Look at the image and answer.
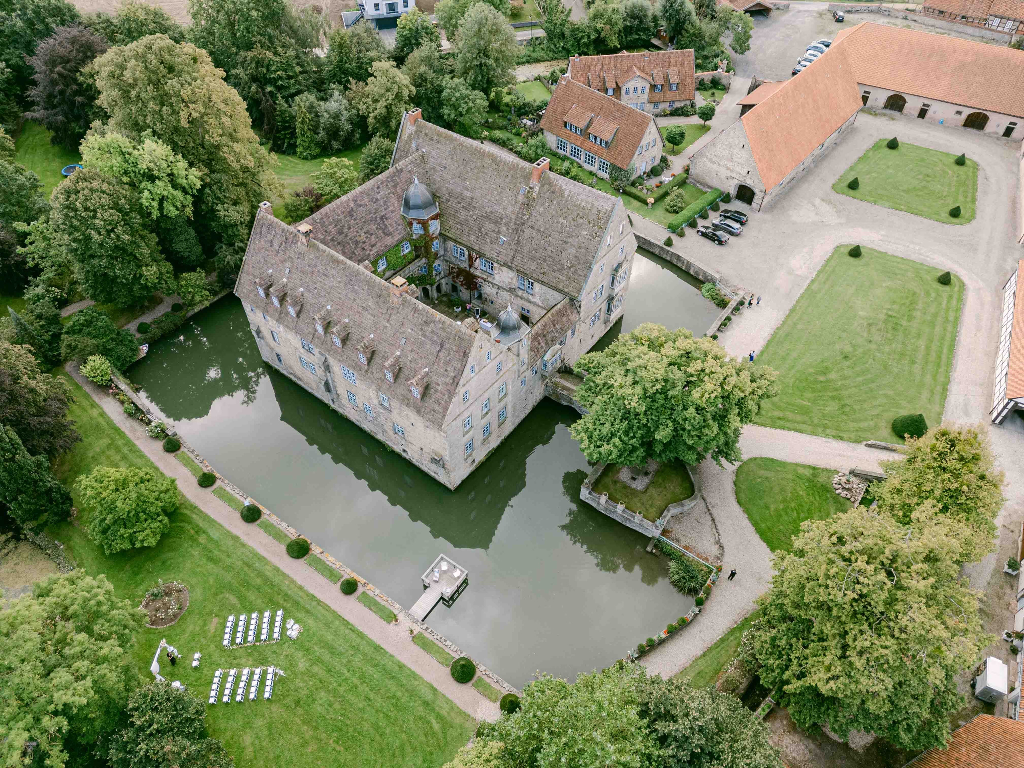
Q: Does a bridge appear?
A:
Yes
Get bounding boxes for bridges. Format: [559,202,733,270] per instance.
[543,359,591,418]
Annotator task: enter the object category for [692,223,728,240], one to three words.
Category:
car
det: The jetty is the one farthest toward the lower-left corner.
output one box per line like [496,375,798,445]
[411,555,474,625]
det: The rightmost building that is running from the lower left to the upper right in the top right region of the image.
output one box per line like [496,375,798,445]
[680,16,873,206]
